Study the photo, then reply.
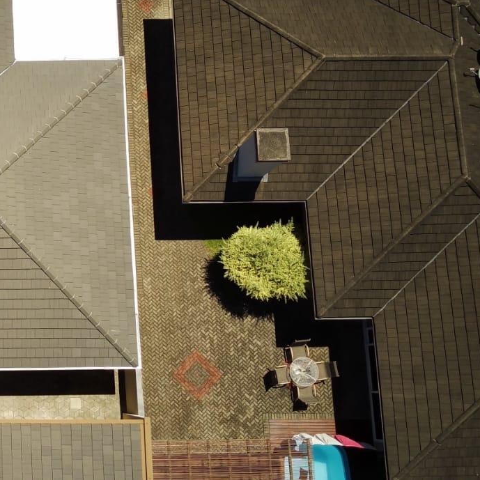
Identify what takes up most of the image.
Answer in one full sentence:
For the most part, this view shows buildings.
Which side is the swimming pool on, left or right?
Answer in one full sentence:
The swimming pool sits on the right side.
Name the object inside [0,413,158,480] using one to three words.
shed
